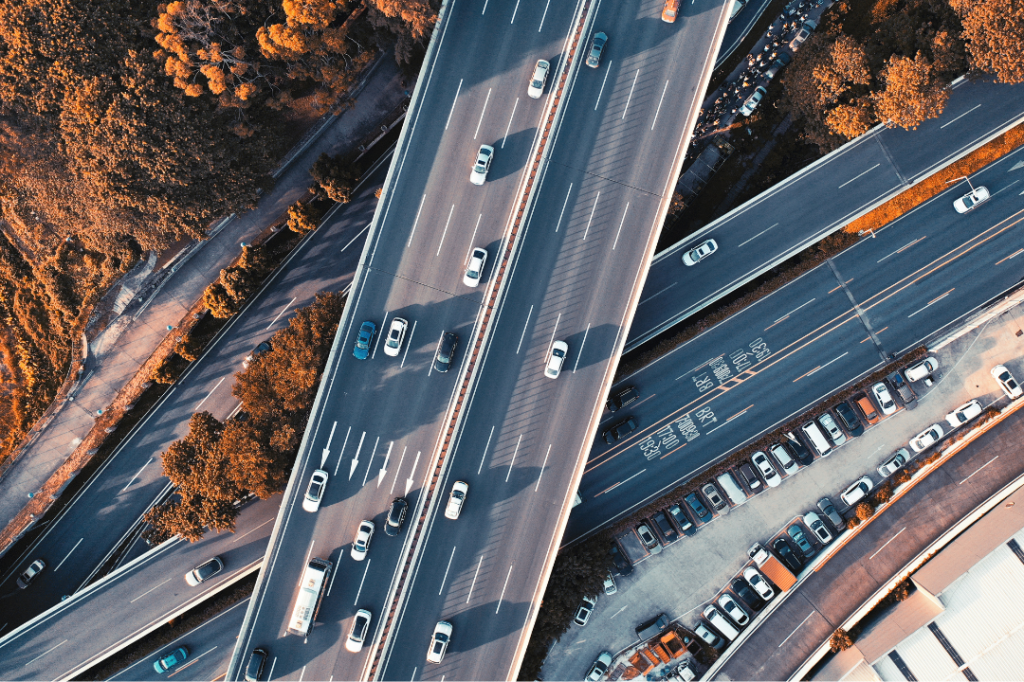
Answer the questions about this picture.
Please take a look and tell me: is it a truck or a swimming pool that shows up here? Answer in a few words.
truck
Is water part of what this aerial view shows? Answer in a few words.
No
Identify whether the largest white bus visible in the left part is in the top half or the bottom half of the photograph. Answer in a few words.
bottom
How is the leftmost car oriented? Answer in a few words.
diagonally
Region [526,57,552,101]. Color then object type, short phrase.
white car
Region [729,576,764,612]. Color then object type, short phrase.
black car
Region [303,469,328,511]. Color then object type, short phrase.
white car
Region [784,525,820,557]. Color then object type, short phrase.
blue car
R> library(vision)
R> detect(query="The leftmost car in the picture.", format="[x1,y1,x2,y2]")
[16,555,48,590]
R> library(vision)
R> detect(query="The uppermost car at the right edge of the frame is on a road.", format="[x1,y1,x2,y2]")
[950,184,990,213]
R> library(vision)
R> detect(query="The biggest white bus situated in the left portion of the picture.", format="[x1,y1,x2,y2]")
[284,553,332,646]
